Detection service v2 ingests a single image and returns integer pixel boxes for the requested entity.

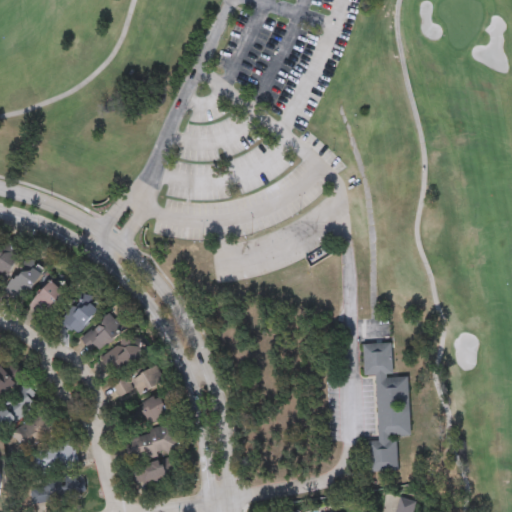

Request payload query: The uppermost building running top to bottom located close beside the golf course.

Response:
[364,343,412,472]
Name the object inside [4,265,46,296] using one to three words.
house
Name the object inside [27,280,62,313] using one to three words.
house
